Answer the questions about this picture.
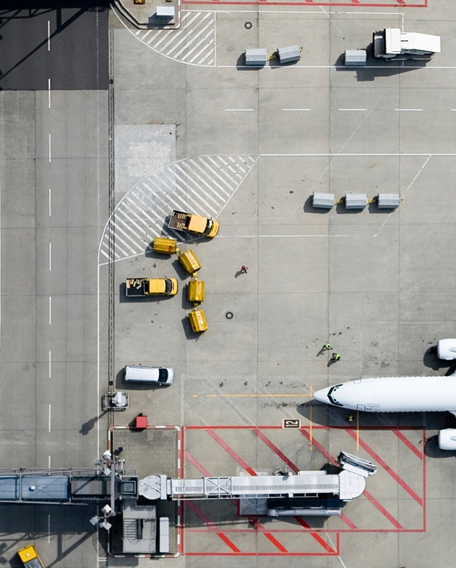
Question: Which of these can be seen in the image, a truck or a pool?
truck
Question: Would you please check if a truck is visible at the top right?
Yes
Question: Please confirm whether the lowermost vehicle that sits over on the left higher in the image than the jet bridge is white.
Yes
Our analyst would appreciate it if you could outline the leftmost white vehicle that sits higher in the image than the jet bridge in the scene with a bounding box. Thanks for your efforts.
[125,366,175,387]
